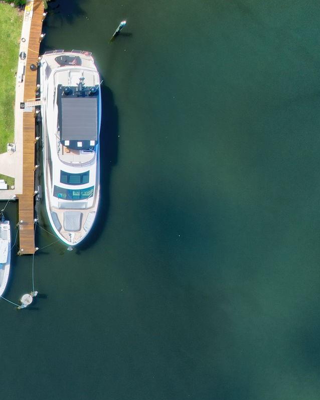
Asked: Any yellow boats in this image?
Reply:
No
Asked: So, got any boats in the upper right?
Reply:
No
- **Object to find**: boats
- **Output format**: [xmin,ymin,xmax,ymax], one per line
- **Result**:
[39,48,101,249]
[0,209,10,296]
